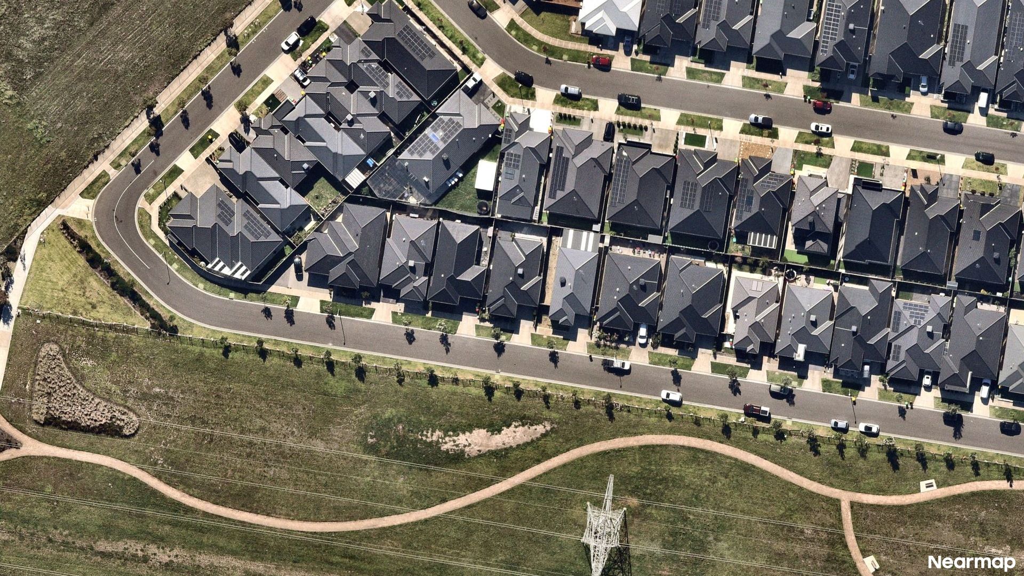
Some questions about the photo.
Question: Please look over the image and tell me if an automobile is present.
Yes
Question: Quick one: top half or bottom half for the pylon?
bottom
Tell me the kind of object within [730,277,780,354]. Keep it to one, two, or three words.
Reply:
house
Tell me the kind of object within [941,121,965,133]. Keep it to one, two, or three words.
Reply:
vehicle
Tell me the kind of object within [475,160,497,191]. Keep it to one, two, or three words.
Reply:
shed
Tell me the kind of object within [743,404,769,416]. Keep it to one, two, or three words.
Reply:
vehicle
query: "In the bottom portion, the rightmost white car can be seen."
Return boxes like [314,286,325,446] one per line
[979,378,991,400]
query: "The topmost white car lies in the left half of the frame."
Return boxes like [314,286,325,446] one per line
[281,33,300,52]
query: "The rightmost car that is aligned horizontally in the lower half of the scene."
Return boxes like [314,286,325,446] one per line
[998,422,1021,434]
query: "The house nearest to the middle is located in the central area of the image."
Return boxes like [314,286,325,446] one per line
[486,239,543,318]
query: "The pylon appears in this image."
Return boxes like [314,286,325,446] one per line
[580,475,627,576]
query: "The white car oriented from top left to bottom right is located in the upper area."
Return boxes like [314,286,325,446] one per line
[292,66,311,87]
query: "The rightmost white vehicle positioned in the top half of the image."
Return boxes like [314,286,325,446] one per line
[976,87,989,112]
